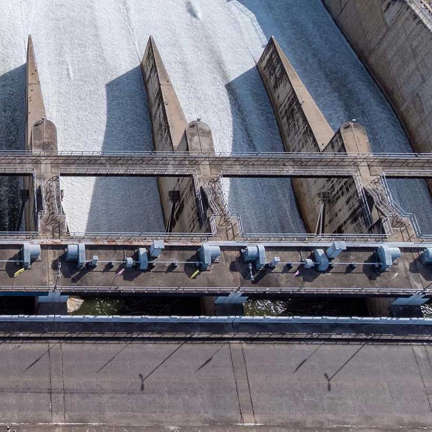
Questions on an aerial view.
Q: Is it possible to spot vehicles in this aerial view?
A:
No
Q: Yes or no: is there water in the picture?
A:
Yes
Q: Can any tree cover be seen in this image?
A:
No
